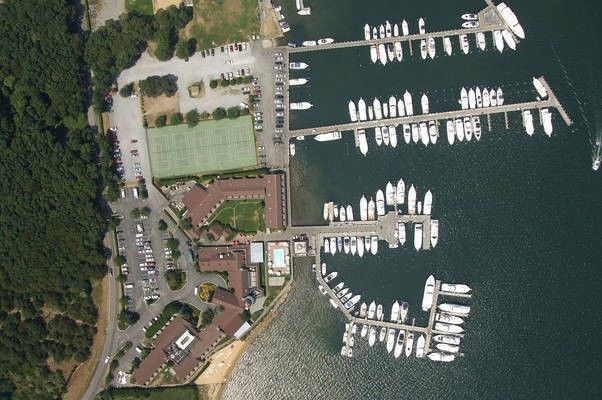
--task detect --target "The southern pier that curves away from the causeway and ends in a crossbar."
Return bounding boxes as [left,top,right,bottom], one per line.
[315,236,471,357]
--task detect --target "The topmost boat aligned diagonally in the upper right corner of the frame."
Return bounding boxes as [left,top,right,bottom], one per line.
[497,1,526,38]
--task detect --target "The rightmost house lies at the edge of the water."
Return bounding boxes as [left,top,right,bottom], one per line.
[293,238,316,257]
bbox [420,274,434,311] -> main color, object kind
white boat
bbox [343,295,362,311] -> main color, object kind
white boat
